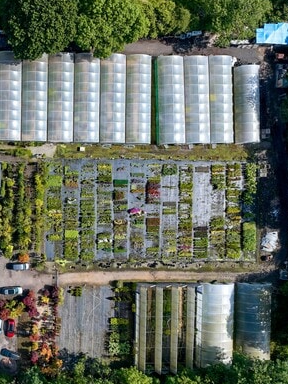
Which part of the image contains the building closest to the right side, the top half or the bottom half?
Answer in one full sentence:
The building closest to the right side sits in the top half of the picture.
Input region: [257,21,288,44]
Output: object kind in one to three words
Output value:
building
